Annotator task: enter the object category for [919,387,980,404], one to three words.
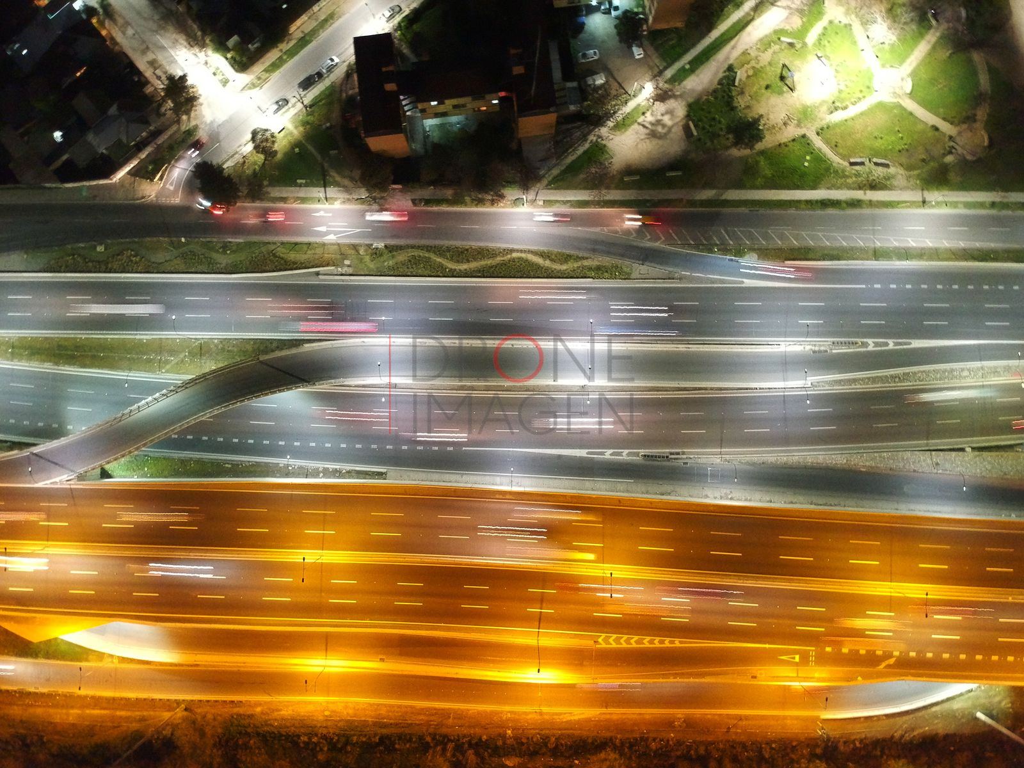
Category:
vehicle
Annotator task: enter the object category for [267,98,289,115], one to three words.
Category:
car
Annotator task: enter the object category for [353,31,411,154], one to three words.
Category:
building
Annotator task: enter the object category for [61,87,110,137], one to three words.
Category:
house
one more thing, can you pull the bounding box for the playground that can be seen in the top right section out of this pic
[735,39,839,134]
